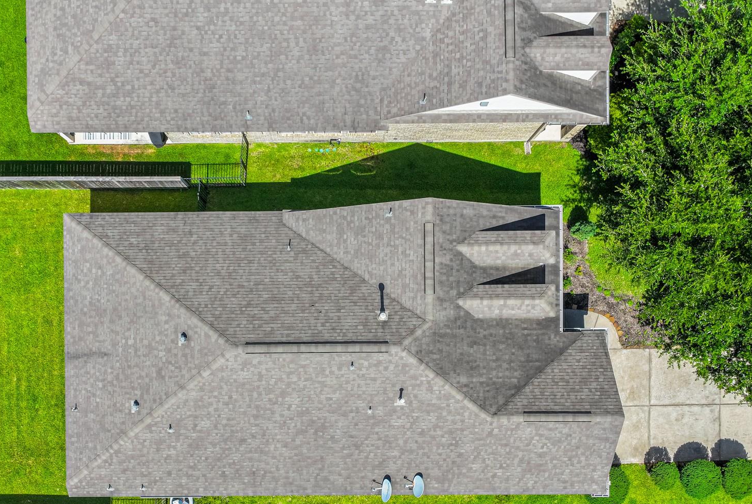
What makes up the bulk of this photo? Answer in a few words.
buildings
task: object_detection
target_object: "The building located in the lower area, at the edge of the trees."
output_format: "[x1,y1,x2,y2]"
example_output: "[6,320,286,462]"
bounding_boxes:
[63,197,626,498]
